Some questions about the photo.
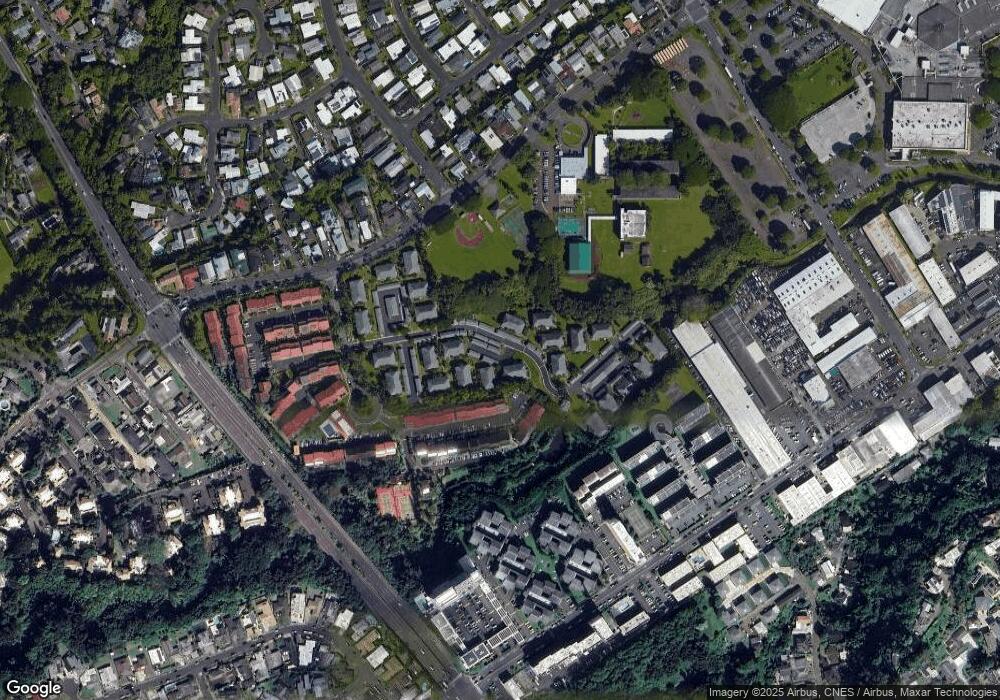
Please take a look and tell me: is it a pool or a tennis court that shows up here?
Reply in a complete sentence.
Of the two, only a tennis court appears.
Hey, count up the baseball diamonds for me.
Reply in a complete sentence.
In total, there is 1 baseball diamond in the scene.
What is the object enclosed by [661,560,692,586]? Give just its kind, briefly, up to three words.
building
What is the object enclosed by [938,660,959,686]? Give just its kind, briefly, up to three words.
house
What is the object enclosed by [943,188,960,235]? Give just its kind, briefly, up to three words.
building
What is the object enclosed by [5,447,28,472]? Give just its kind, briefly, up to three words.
house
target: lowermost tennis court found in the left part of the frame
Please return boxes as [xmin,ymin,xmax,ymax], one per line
[376,484,413,518]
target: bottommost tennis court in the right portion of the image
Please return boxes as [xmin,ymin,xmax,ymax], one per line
[621,505,652,539]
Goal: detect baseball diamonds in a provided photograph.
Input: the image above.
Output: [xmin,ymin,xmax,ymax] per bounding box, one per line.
[428,208,520,280]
